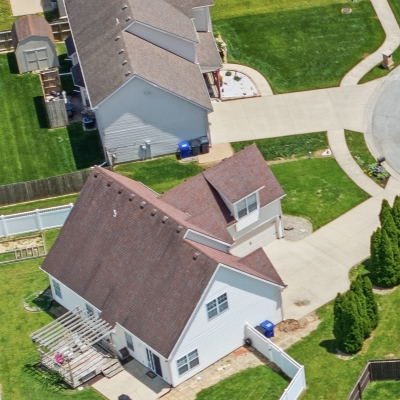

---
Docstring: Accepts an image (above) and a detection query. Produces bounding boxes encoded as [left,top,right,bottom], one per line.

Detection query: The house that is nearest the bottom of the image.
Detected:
[41,141,287,387]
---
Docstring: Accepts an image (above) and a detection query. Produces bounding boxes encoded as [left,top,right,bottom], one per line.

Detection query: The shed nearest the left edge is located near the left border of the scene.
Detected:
[9,8,59,74]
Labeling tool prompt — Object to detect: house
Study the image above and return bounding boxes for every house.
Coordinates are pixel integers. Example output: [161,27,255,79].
[62,0,226,165]
[41,141,287,387]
